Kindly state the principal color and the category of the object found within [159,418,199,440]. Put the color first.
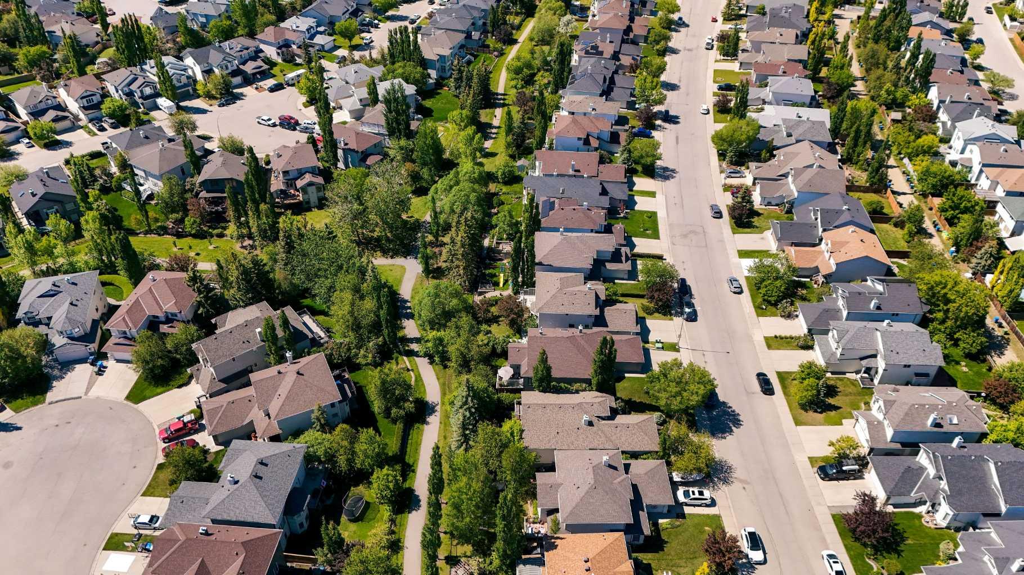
red truck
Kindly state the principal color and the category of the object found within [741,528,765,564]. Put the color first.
white car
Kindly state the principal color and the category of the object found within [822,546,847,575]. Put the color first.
white car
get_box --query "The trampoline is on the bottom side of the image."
[337,487,367,520]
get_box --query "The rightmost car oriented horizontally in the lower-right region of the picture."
[819,461,859,479]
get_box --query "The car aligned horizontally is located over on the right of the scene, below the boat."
[676,487,714,506]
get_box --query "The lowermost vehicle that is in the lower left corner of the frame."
[125,513,161,531]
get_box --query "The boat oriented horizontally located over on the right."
[668,465,714,484]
